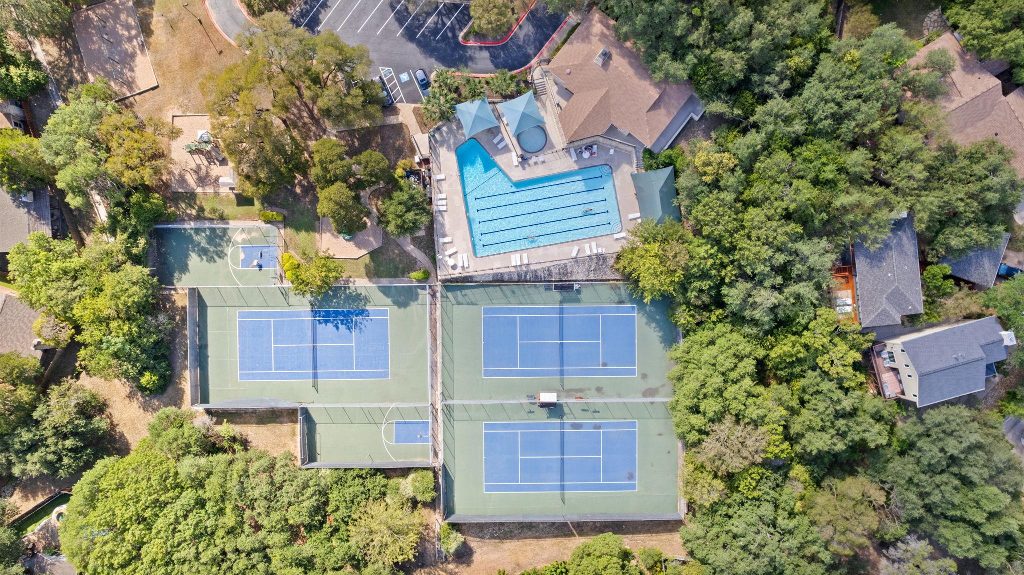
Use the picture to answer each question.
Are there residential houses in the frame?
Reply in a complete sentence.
Yes, the picture does show a residential house.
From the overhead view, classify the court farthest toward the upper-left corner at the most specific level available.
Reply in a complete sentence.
The court farthest toward the upper-left corner can be classified as a basketball court.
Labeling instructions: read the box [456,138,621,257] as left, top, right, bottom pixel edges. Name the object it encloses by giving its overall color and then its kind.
blue swimming pool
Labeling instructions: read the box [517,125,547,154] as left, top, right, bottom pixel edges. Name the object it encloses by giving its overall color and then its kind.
blue swimming pool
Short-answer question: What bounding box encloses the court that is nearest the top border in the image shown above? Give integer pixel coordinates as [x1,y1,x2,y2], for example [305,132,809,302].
[161,226,277,286]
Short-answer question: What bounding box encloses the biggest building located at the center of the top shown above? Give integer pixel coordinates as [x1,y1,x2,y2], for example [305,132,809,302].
[547,9,693,147]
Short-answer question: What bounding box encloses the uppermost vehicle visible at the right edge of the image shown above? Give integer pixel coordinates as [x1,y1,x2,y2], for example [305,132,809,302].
[996,262,1022,278]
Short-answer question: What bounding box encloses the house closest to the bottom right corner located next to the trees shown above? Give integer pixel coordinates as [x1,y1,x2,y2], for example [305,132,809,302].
[878,315,1017,407]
